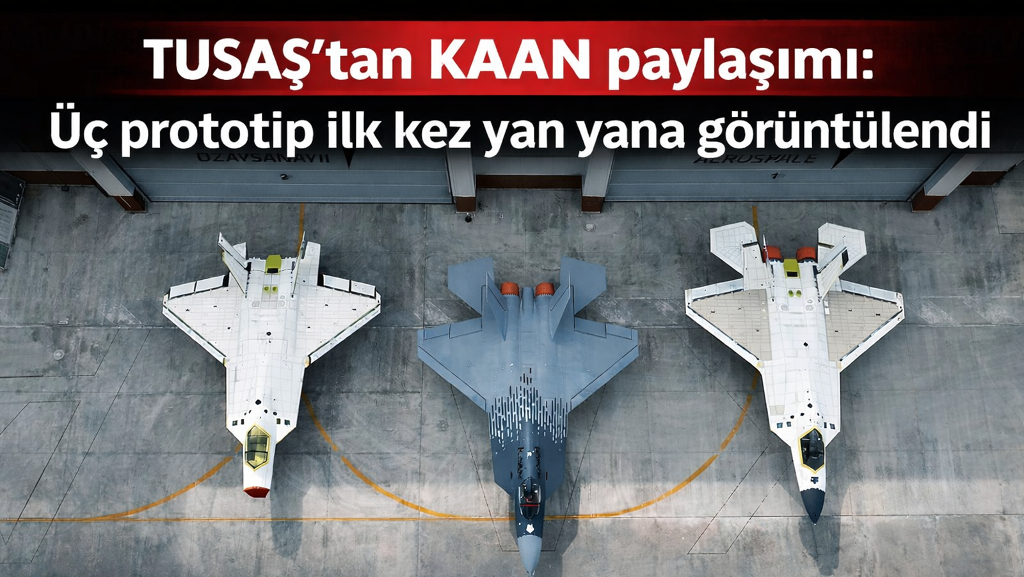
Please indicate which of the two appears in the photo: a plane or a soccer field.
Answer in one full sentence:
There is a plane in the scene.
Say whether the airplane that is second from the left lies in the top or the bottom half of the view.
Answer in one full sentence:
The airplane that is second from the left is in the bottom half of the image.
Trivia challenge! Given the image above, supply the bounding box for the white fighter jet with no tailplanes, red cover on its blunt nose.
[160,229,381,498]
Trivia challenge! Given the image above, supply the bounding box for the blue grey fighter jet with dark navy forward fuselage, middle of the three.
[417,257,640,577]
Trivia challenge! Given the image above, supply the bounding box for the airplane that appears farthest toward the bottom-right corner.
[686,221,907,524]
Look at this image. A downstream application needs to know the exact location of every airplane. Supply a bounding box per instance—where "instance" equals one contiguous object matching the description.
[686,221,907,524]
[160,229,381,498]
[417,257,640,577]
